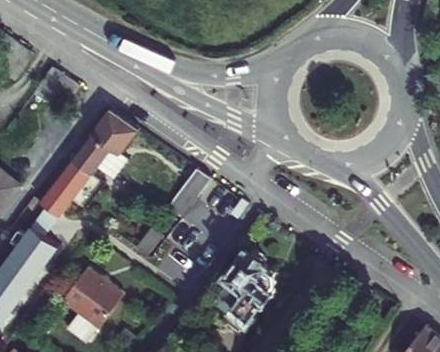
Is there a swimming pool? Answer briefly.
No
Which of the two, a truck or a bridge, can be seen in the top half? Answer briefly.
truck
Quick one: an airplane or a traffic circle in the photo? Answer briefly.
traffic circle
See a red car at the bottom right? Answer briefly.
Yes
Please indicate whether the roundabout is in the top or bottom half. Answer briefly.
top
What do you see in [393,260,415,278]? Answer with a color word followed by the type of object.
red car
